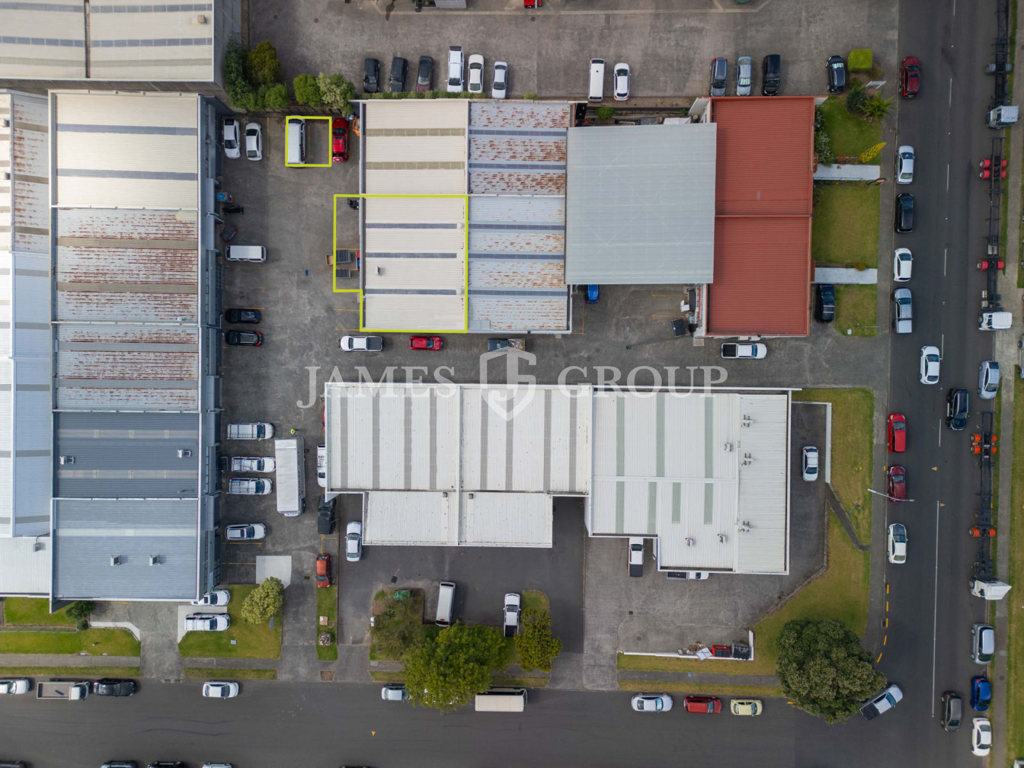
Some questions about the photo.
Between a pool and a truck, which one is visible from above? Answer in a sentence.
There is a truck in the scene.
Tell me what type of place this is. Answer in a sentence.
This image shows an industrial area.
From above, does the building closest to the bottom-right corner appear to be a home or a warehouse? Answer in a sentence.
Looking closely, the building closest to the bottom-right corner is a warehouse.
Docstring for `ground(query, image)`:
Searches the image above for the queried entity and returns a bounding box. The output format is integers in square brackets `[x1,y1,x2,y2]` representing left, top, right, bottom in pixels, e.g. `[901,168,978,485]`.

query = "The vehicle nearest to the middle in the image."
[487,338,525,354]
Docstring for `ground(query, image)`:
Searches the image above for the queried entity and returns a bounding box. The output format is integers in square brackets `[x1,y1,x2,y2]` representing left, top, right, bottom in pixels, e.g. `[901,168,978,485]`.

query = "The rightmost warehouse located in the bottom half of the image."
[583,385,802,575]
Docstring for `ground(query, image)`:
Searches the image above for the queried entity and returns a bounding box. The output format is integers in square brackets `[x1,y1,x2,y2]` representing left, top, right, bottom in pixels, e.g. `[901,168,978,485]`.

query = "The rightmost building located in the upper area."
[687,95,828,341]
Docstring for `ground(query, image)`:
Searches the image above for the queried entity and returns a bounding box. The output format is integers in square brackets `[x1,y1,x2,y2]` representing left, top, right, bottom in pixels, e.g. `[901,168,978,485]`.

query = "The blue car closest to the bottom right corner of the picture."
[969,674,992,710]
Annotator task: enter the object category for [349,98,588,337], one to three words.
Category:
warehouse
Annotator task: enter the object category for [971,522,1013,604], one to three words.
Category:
truck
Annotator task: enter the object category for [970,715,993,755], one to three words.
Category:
car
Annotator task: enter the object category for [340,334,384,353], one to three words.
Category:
vehicle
